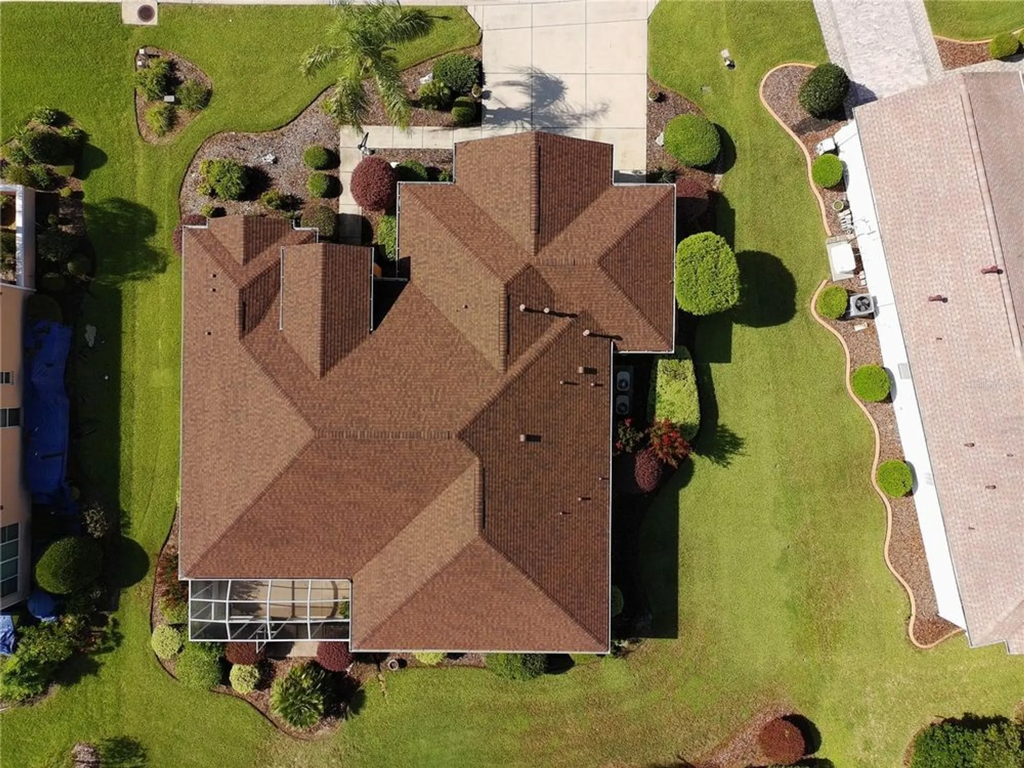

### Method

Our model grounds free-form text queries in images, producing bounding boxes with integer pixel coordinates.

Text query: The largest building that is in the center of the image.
[176,131,678,657]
